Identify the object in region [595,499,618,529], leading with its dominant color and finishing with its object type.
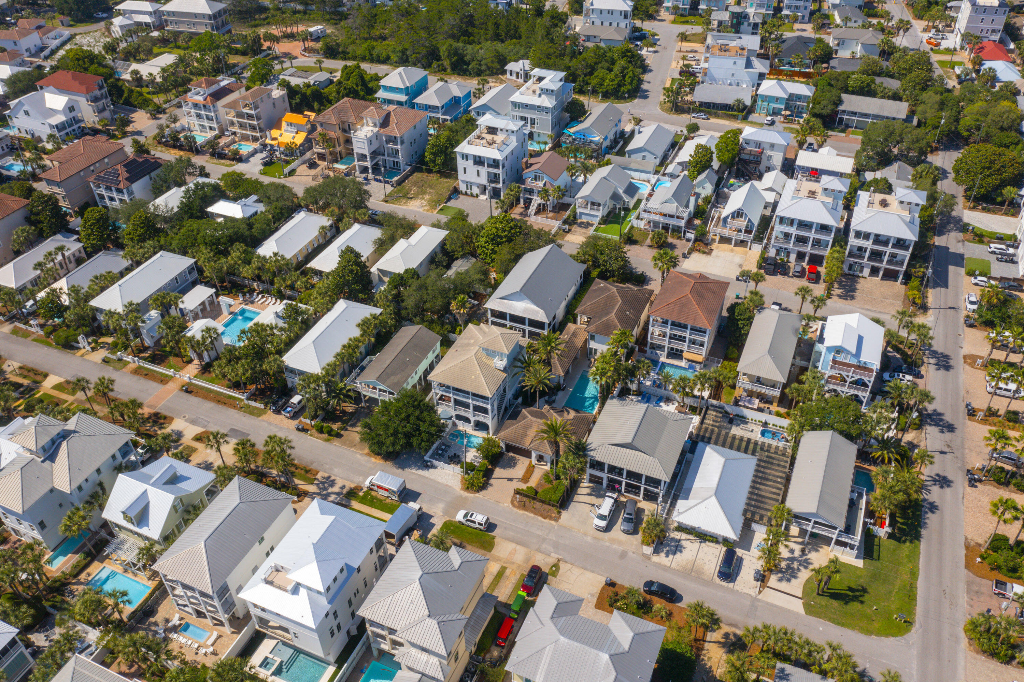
white car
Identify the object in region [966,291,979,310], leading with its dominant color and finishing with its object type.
white vehicle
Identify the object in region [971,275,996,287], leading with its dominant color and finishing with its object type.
white vehicle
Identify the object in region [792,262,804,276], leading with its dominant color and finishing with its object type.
gray vehicle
